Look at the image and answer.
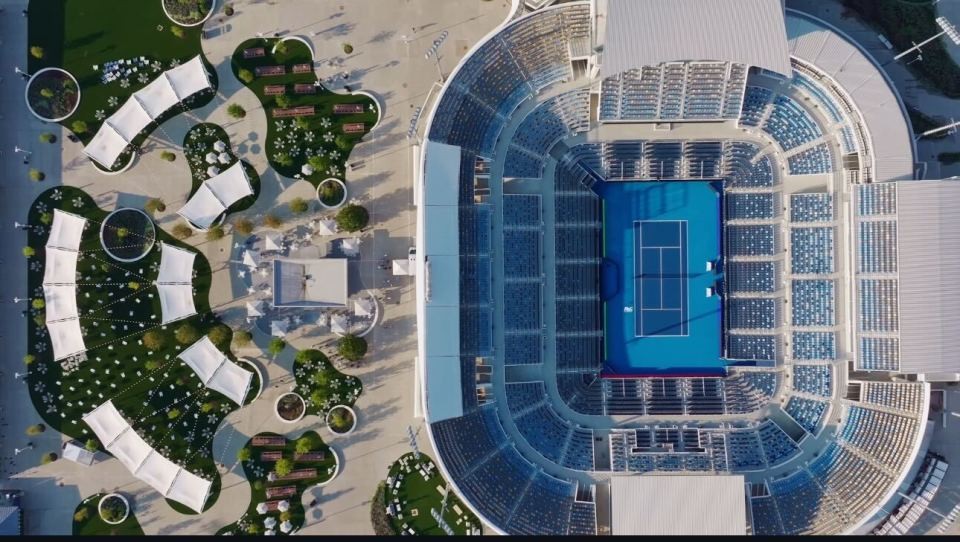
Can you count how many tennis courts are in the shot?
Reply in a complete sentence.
My tally gives 1 tennis court in this photo.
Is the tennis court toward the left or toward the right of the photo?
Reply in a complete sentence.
The tennis court is on the right side of the image.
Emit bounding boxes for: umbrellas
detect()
[248,300,263,316]
[213,140,227,152]
[332,316,347,331]
[357,300,371,314]
[218,152,232,165]
[207,166,220,178]
[256,502,269,514]
[273,322,288,336]
[278,499,290,511]
[342,237,358,253]
[280,520,292,533]
[266,234,281,249]
[268,471,278,481]
[244,249,262,267]
[264,516,277,529]
[301,164,313,176]
[321,220,336,234]
[264,527,277,537]
[205,152,218,165]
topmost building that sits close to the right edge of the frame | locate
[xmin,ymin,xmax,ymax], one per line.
[927,388,945,412]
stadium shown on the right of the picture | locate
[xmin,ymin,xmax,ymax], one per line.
[412,0,960,542]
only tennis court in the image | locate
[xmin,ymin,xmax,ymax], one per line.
[598,178,730,381]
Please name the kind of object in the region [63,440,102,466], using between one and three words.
tent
